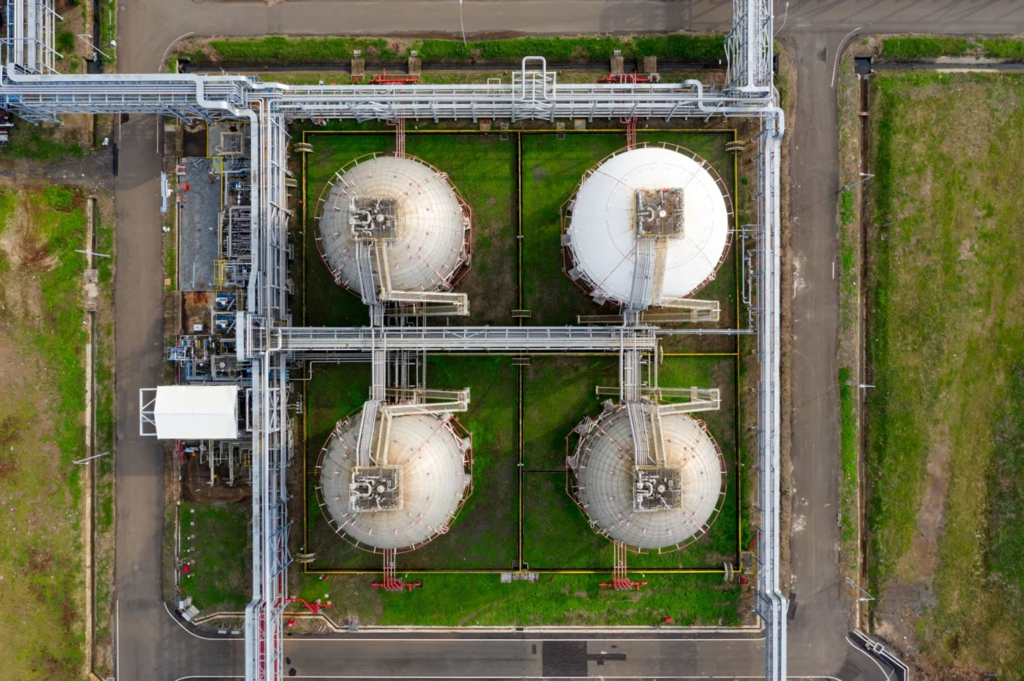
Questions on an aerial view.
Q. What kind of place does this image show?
industrial area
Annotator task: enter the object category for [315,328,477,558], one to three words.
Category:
storage tank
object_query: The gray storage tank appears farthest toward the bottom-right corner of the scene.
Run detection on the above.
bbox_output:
[562,328,726,559]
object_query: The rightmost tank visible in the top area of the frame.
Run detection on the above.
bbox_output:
[557,141,731,325]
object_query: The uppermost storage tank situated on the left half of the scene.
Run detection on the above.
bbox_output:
[314,146,477,324]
